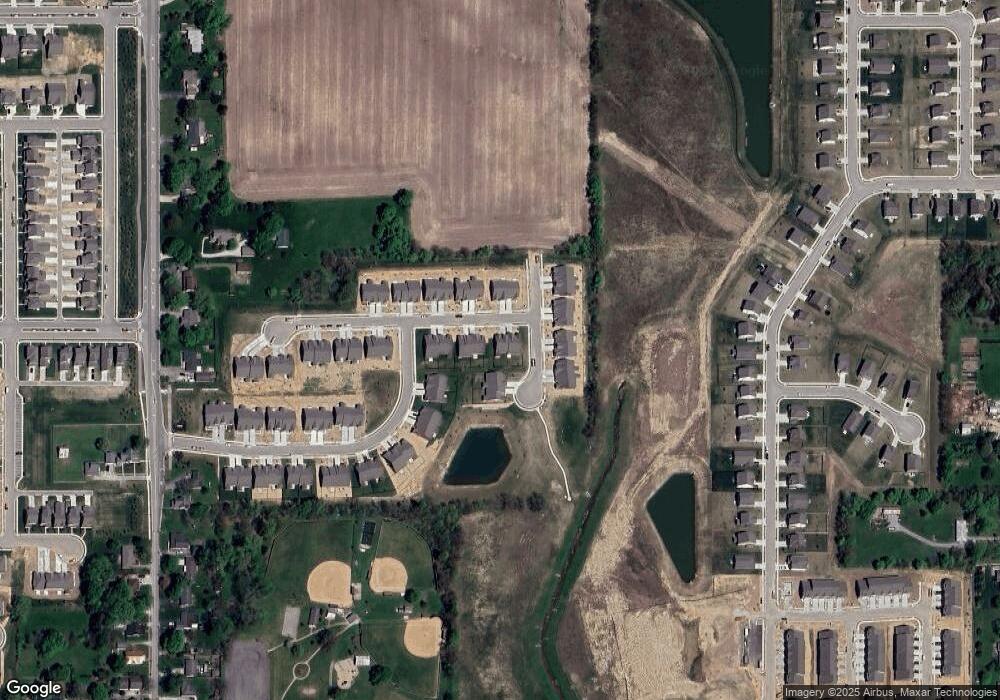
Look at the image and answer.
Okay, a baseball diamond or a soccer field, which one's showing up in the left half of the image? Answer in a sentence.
The one visible in the left half of the image is a baseball diamond.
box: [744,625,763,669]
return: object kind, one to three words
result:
building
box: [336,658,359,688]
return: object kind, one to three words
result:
playground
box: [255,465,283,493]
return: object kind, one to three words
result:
house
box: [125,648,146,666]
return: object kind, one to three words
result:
house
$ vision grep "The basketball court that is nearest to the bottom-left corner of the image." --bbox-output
[282,606,299,638]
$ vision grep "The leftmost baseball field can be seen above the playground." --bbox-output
[266,517,354,607]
